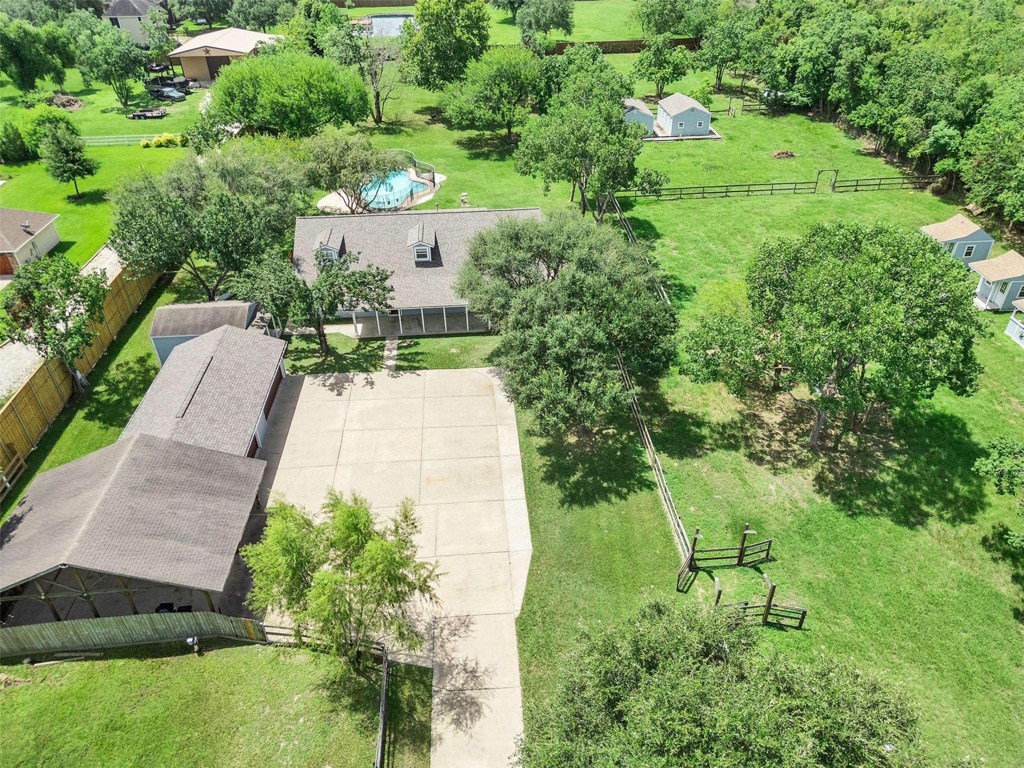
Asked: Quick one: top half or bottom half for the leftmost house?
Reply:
top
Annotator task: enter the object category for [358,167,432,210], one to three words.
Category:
swimming pool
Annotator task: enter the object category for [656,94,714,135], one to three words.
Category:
shed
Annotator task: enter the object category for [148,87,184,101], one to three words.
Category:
vehicle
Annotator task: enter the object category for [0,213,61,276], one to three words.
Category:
house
